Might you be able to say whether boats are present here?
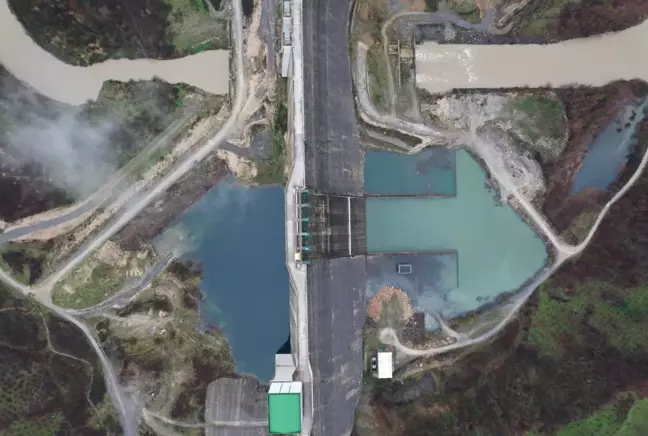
No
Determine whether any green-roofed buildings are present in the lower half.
Yes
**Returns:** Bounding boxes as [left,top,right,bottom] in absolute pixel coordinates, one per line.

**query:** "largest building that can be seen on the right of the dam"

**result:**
[378,351,392,378]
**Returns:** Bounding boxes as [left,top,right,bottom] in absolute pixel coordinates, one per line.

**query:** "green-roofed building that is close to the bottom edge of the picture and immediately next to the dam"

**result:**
[269,382,301,433]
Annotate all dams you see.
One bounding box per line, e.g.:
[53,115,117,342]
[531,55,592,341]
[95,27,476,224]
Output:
[285,0,368,436]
